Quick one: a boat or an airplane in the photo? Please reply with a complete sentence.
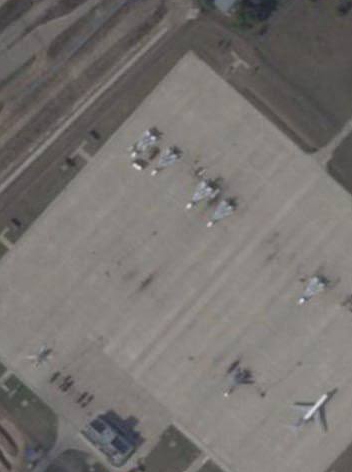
The image shows an airplane.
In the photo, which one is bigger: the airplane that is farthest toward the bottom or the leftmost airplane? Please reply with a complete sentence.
It is the airplane that is farthest toward the bottom that is larger, not the leftmost airplane.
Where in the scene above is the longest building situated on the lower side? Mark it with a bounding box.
[84,415,135,465]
